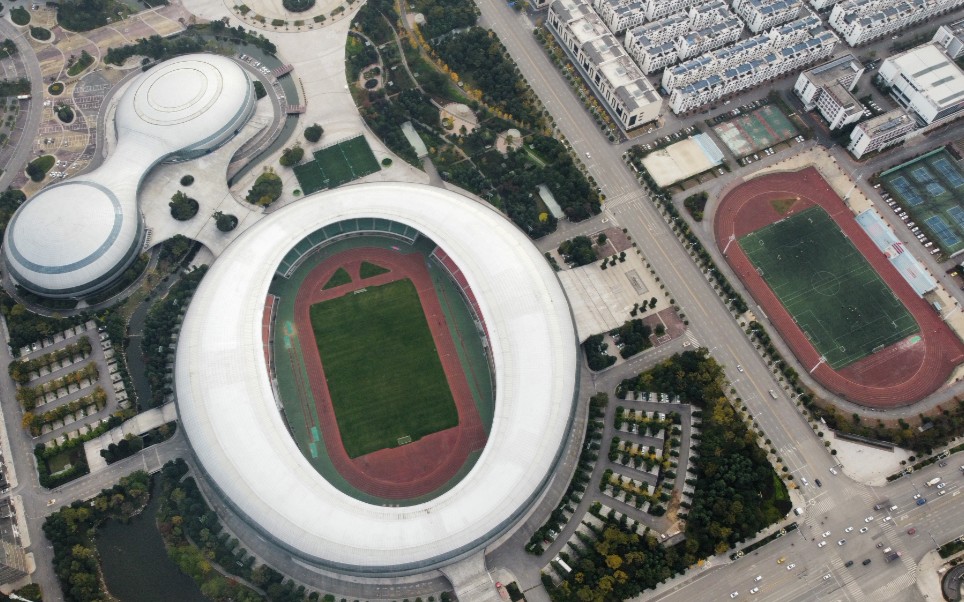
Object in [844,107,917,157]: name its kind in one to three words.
building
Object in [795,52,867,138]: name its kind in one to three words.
building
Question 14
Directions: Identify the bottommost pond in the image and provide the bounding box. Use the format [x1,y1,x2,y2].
[97,471,199,602]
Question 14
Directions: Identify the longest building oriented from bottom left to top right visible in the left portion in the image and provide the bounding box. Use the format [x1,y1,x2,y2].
[2,50,258,298]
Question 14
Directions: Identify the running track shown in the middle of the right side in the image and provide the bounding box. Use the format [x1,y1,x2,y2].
[715,165,964,408]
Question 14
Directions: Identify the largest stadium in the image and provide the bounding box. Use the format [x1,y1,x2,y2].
[171,177,586,579]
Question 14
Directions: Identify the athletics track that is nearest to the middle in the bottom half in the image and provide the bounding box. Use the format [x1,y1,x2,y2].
[283,236,489,501]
